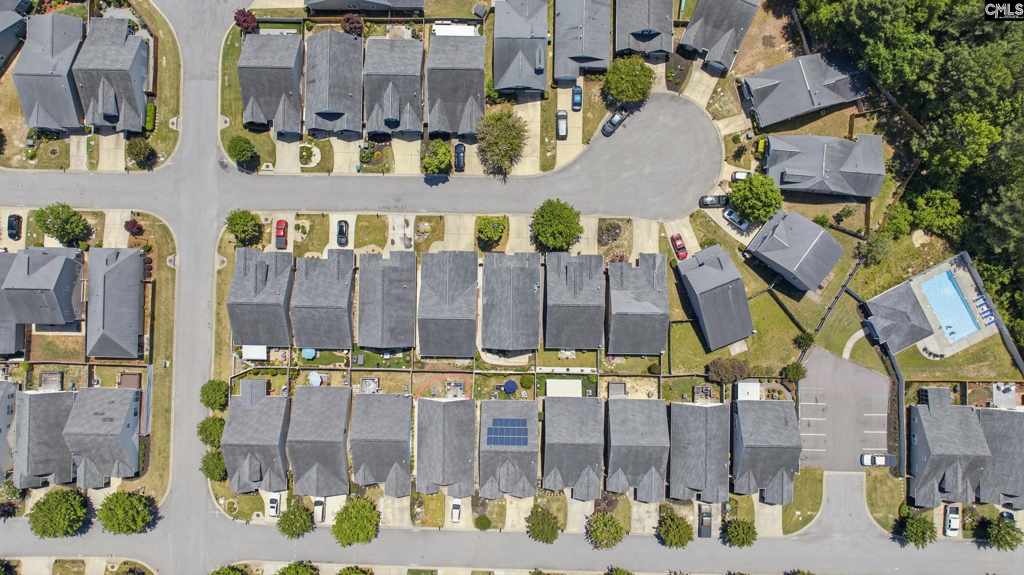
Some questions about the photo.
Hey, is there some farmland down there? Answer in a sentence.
No, no farmland is visible.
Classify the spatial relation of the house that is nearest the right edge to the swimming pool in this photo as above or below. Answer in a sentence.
The house that is nearest the right edge is below the swimming pool.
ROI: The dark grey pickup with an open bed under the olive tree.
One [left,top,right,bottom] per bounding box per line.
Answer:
[602,107,629,136]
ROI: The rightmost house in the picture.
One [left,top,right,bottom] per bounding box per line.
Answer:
[975,407,1024,512]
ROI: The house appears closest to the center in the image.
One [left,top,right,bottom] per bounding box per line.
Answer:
[482,253,542,349]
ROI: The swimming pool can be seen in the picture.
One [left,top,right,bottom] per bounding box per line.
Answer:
[910,258,998,360]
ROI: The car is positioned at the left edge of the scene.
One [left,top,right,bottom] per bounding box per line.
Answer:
[9,217,23,239]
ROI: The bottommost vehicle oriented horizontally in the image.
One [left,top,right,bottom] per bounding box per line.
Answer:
[861,454,892,467]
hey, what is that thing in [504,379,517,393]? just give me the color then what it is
blue umbrella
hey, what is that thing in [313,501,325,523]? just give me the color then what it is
white vehicle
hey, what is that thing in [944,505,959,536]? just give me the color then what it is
white vehicle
